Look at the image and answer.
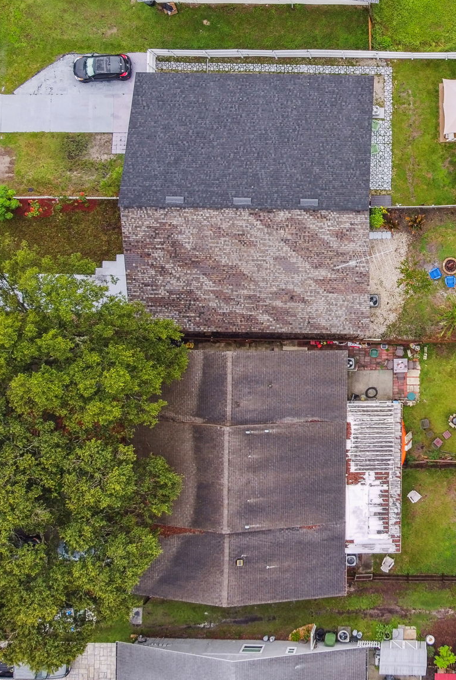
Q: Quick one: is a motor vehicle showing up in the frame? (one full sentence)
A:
Yes, looking at the shot, I can spot a motor vehicle.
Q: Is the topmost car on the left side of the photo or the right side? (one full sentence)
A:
It is on the left.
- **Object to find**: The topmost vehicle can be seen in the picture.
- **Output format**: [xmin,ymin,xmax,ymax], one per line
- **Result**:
[76,52,132,83]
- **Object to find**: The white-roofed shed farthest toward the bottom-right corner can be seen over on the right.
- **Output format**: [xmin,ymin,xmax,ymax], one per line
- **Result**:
[379,641,425,674]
